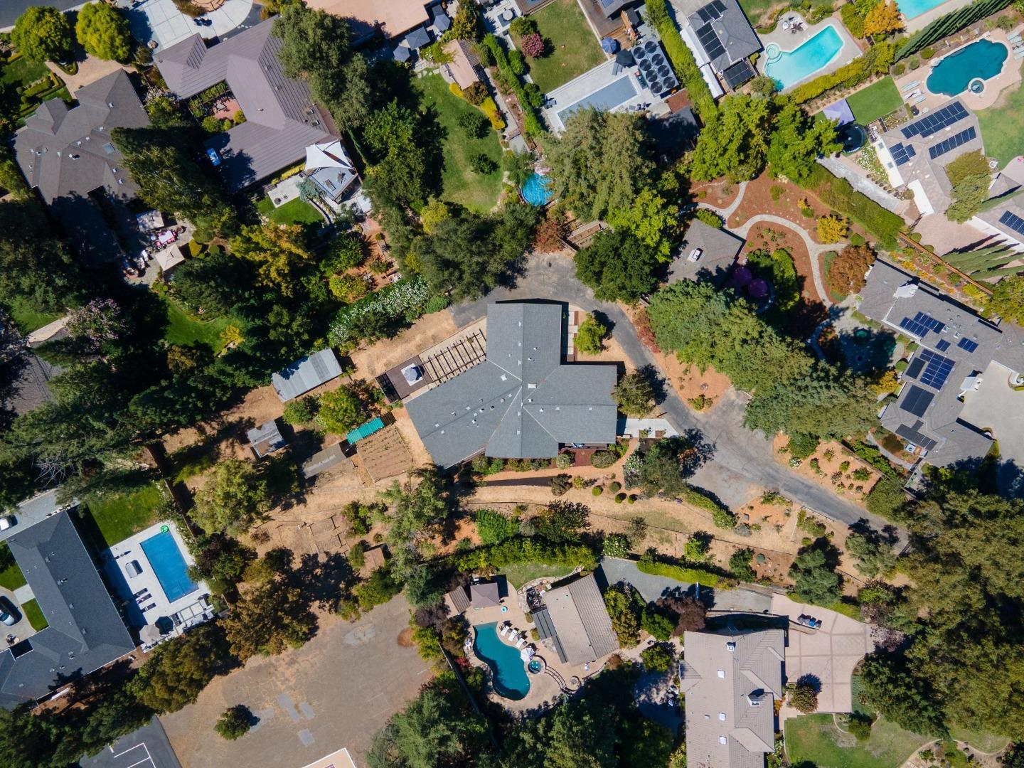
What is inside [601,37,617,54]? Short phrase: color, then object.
blue umbrella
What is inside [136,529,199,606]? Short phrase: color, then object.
blue swimming pool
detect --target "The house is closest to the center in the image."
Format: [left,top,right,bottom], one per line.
[404,303,618,469]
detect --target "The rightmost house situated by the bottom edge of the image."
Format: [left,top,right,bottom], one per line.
[678,622,786,768]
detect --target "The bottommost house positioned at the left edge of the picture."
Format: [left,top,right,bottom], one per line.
[0,510,145,707]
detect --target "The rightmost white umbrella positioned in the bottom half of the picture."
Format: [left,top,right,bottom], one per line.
[520,646,534,661]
